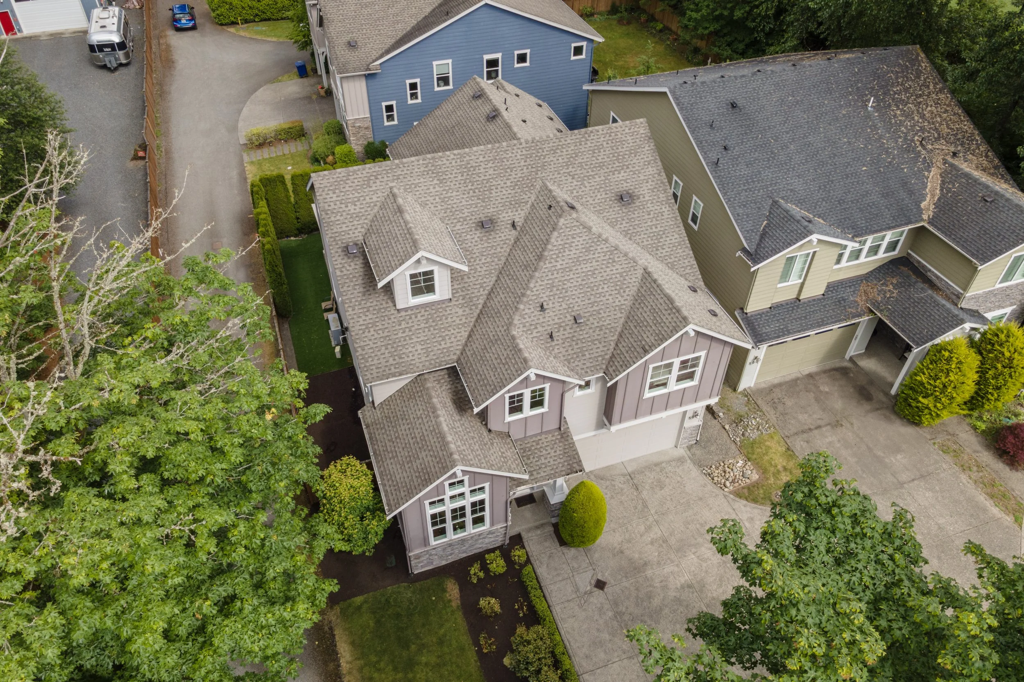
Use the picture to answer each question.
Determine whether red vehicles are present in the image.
No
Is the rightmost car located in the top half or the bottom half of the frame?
top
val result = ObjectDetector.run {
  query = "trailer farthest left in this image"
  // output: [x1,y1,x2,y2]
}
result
[91,4,135,74]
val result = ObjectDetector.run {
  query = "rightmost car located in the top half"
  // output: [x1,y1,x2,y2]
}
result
[168,1,196,29]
